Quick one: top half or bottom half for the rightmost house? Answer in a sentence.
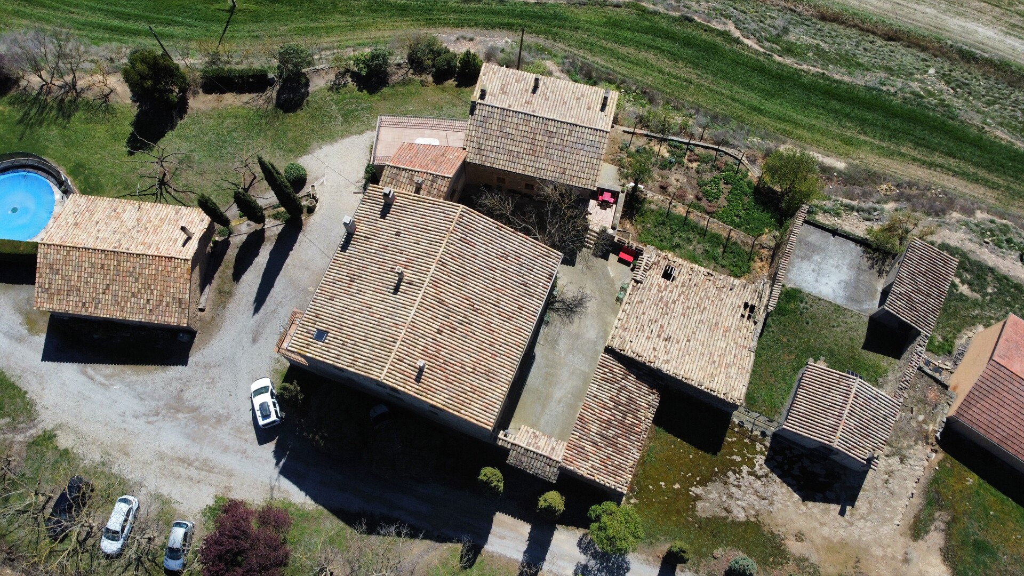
The rightmost house sits in the bottom half of the picture.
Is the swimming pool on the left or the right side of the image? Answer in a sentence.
The swimming pool sits on the left side.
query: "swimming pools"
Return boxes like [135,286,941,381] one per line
[0,161,68,242]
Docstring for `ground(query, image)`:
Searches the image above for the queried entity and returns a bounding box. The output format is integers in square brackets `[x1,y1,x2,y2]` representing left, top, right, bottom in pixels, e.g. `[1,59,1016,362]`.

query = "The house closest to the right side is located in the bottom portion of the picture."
[933,313,1024,468]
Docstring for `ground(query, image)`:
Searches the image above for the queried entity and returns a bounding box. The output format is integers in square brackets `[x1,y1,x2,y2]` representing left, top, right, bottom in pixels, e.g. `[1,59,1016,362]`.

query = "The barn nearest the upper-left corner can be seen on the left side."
[34,193,224,334]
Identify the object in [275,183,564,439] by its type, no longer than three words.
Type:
house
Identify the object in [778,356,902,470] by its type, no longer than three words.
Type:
shed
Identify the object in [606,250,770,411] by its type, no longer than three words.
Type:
barn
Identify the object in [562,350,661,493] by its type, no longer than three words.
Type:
shed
